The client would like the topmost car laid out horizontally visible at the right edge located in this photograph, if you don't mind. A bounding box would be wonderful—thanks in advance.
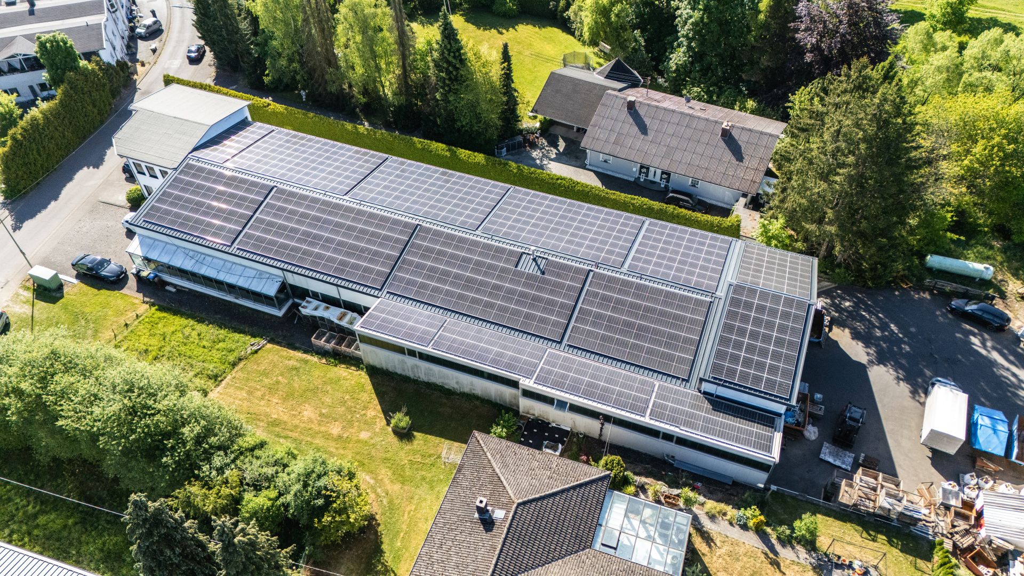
[946,296,1022,335]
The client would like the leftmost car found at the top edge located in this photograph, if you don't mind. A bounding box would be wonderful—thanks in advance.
[129,17,166,42]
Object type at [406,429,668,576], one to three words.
house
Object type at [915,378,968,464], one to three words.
truck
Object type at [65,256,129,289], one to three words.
car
